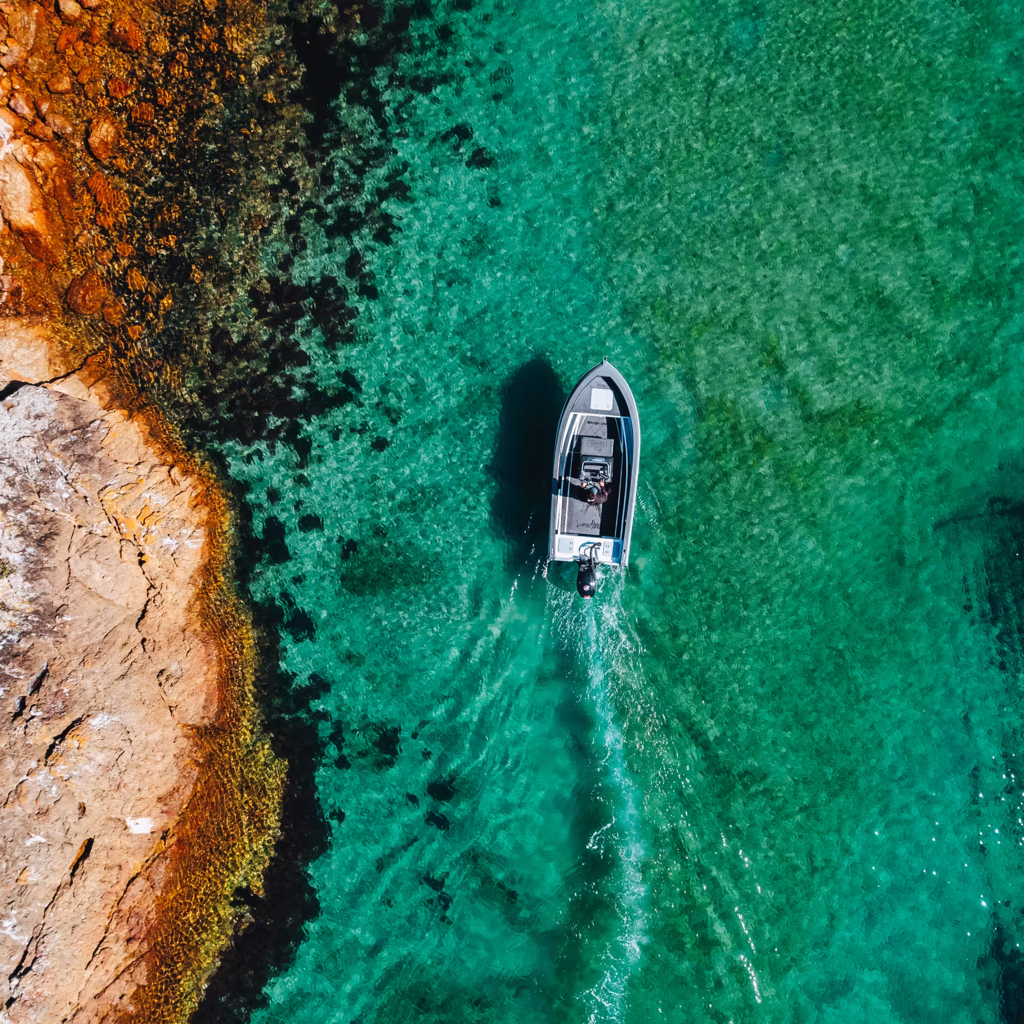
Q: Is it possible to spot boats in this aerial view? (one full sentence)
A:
Yes, there's a boat here.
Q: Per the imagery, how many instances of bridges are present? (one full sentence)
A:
No bridges are visible.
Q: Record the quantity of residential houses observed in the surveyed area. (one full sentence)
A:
The photo contains no residential houses.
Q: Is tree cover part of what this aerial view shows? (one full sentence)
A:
No, the scene doesn't show any tree cover.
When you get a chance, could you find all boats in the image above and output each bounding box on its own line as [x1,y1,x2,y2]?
[548,356,640,598]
